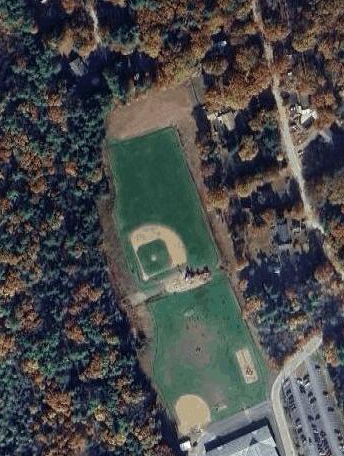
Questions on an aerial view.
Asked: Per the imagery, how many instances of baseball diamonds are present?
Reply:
2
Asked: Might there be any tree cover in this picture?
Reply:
Yes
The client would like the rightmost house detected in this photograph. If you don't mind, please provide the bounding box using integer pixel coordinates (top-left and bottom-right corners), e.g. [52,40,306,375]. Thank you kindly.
[290,105,316,128]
